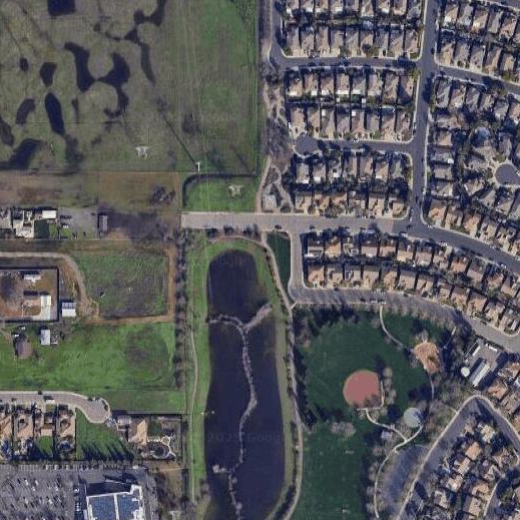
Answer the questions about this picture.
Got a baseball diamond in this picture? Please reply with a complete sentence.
Yes, the frame does contain a baseball diamond.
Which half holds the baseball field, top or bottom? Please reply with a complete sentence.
The baseball field sits in the bottom half of the picture.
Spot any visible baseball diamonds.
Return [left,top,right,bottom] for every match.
[342,368,383,409]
